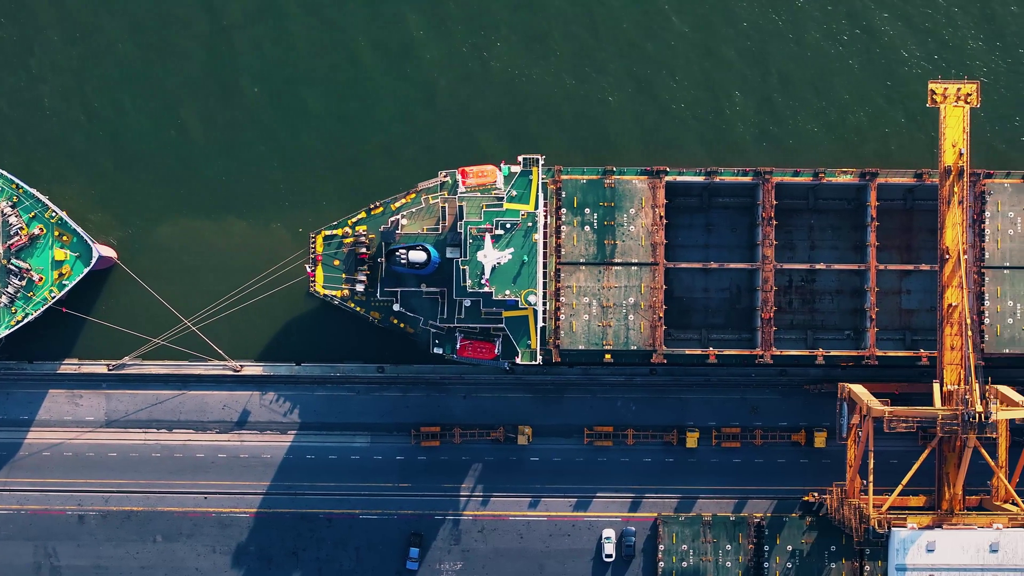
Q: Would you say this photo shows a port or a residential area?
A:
port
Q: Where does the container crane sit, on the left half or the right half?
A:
right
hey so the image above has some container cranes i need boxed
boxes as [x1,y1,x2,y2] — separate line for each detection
[809,80,1024,576]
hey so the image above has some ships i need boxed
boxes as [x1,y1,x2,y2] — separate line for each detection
[305,155,1024,370]
[0,169,118,337]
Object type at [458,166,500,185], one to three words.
boat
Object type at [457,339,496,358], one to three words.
boat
